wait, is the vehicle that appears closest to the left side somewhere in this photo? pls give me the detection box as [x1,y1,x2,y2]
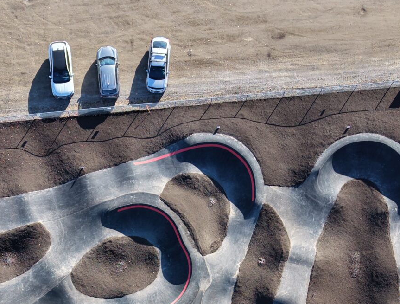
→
[48,39,75,99]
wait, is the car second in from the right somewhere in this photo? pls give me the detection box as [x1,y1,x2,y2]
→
[94,43,122,97]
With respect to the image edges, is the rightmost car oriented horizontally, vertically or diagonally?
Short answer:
vertically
